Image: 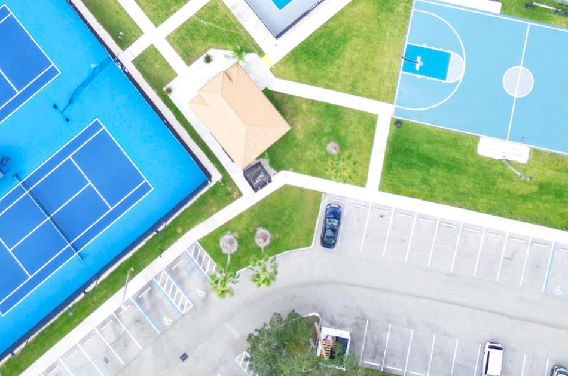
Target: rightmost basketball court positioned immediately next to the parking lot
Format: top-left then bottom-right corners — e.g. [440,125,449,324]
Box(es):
[392,0,568,156]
